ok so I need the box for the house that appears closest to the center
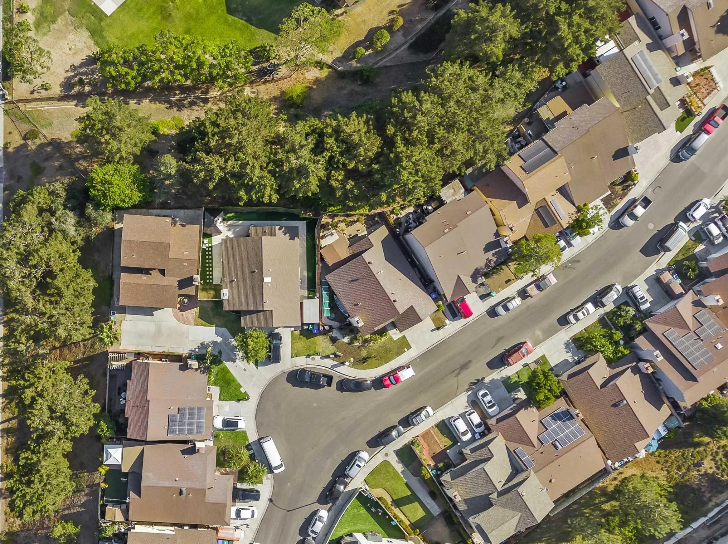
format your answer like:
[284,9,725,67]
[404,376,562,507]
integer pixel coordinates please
[325,225,438,335]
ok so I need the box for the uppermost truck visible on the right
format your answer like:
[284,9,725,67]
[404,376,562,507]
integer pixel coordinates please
[695,105,728,135]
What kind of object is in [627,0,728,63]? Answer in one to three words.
house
